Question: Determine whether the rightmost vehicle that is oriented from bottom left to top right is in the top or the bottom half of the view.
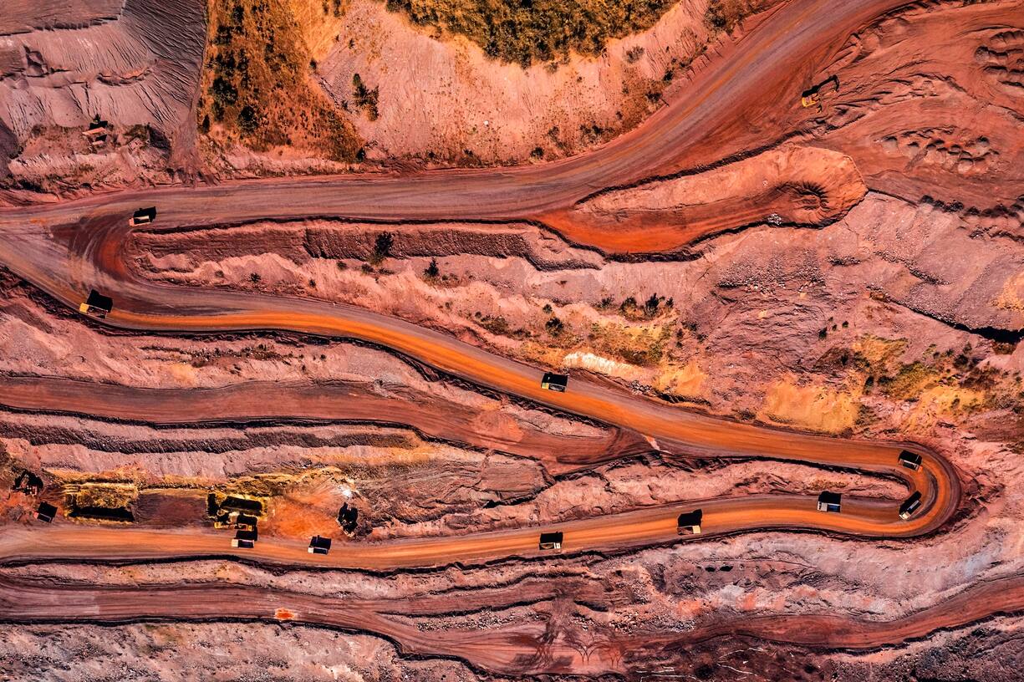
bottom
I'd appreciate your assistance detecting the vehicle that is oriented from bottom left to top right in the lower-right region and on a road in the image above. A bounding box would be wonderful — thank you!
[902,499,925,519]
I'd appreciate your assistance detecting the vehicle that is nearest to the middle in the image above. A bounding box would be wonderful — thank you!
[543,384,568,396]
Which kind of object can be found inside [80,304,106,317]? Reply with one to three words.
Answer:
vehicle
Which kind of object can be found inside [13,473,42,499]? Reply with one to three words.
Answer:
work vehicle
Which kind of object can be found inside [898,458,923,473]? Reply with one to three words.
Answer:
vehicle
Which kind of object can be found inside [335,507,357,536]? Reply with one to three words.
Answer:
work vehicle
